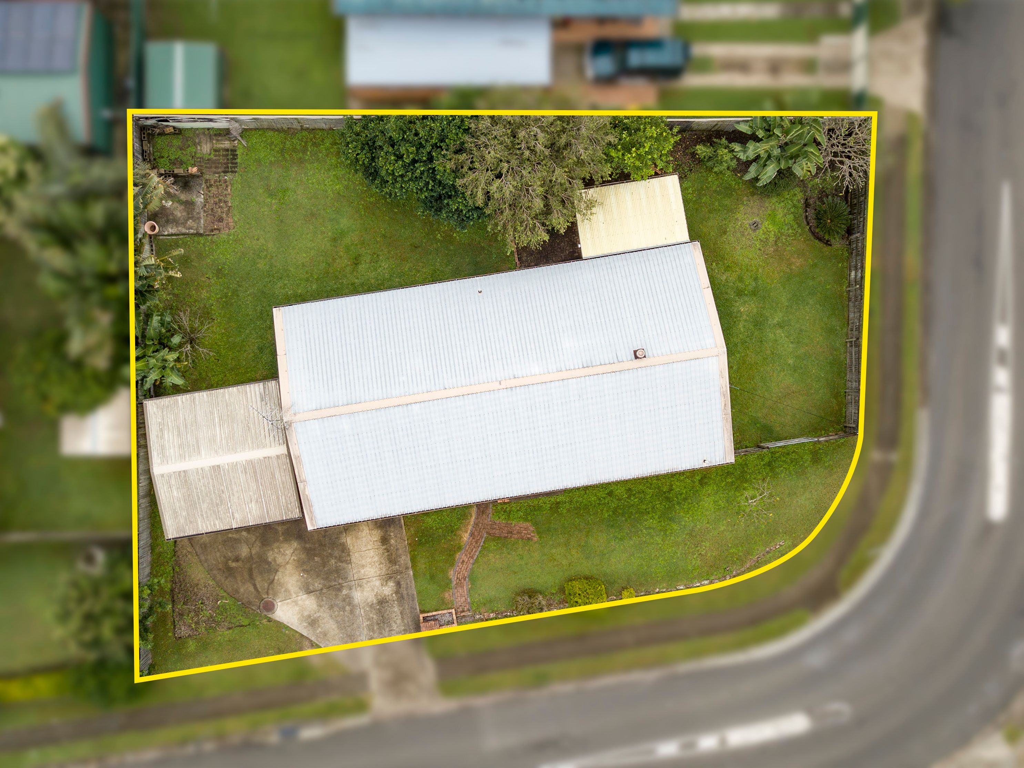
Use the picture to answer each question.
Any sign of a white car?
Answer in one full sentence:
No, the photo shows no white car.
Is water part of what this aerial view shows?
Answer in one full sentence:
No, water can't be seen anywhere here.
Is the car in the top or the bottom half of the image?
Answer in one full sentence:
The car sits in the top half of the picture.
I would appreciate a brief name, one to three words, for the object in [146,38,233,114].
shed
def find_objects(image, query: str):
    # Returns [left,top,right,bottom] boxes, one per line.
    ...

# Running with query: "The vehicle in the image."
[584,28,690,79]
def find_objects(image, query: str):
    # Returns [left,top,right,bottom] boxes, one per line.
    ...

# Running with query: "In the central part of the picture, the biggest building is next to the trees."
[273,237,734,533]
